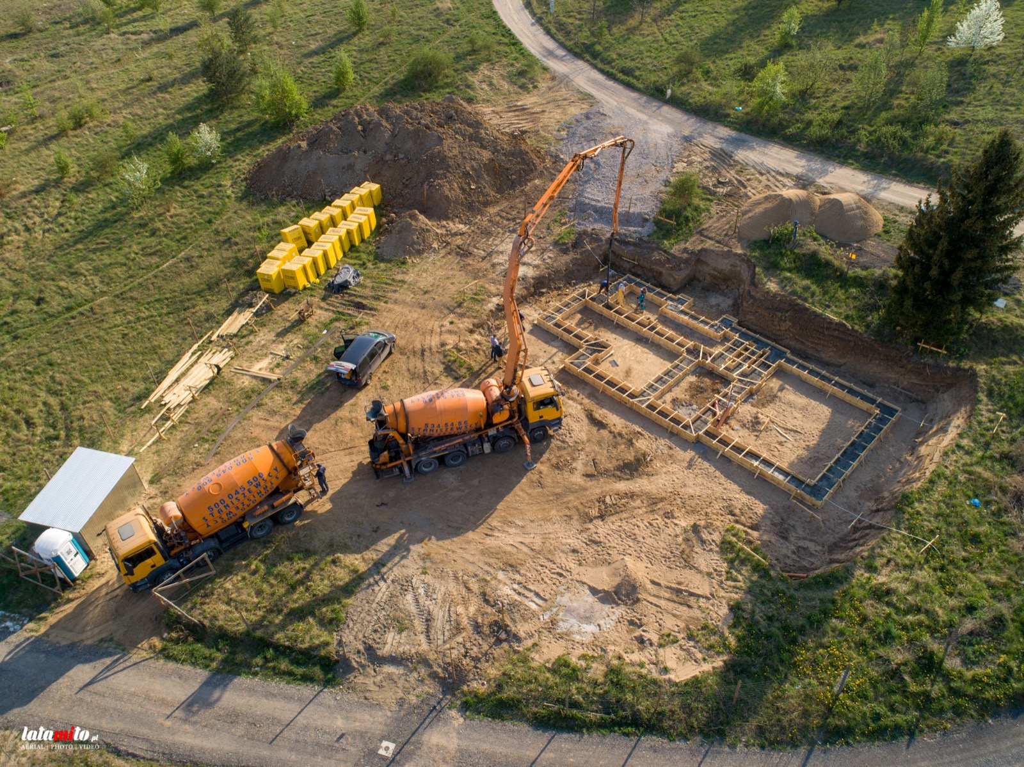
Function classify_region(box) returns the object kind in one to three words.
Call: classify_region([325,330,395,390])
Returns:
car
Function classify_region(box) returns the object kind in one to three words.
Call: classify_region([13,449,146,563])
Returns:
shed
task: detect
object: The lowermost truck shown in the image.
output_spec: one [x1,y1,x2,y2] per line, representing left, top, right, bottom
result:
[102,422,327,597]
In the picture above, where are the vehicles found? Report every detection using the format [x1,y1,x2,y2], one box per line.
[102,422,327,597]
[358,136,635,485]
[325,330,395,390]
